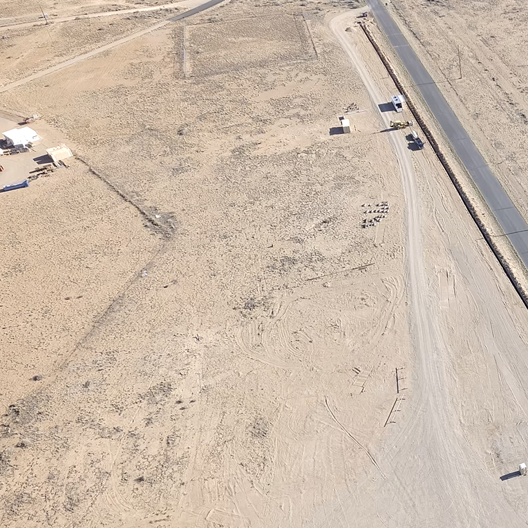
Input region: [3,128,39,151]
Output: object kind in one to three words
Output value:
building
